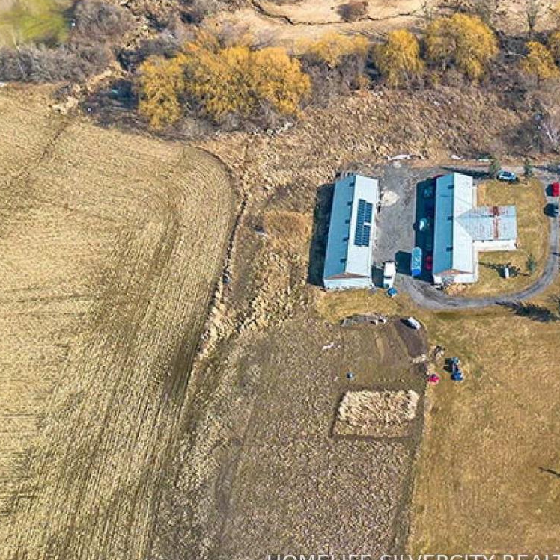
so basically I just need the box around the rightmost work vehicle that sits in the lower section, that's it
[449,359,464,387]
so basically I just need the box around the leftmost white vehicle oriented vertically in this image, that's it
[381,260,395,286]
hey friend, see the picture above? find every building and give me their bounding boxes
[433,172,517,286]
[324,174,378,286]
